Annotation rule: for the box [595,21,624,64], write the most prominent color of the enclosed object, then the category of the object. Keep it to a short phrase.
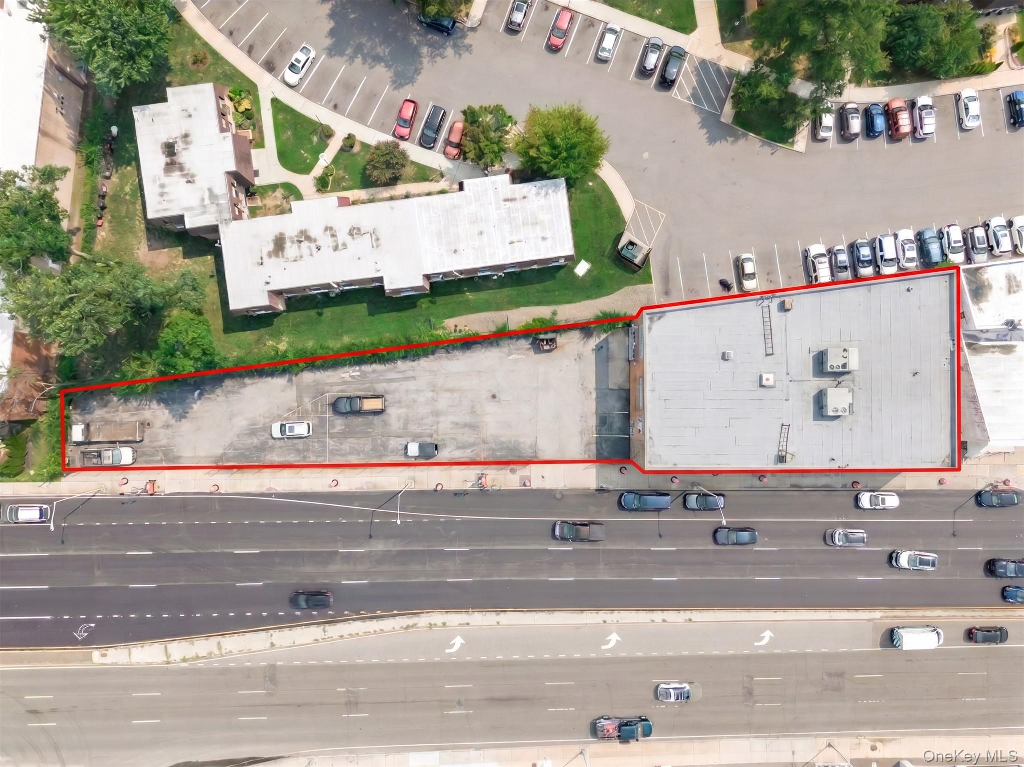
white car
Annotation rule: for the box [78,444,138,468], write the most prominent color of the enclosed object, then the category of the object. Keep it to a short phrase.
white truck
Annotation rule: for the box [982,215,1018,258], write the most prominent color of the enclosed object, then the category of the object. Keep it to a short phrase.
white car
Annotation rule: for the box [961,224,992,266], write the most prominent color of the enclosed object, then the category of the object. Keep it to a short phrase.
gray car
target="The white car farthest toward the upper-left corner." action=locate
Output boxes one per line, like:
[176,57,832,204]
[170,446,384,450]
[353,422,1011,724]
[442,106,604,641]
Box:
[285,41,318,88]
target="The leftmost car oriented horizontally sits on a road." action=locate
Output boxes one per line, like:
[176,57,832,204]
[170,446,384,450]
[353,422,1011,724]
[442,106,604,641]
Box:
[7,503,53,525]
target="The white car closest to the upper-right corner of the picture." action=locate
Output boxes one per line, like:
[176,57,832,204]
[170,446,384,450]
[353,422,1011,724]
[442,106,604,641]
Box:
[955,88,981,132]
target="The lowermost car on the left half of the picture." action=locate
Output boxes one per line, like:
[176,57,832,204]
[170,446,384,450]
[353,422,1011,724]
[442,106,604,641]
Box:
[290,588,335,611]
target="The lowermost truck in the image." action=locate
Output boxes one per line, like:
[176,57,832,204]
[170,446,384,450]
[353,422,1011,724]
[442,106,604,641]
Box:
[593,715,653,741]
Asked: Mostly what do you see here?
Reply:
paved ground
